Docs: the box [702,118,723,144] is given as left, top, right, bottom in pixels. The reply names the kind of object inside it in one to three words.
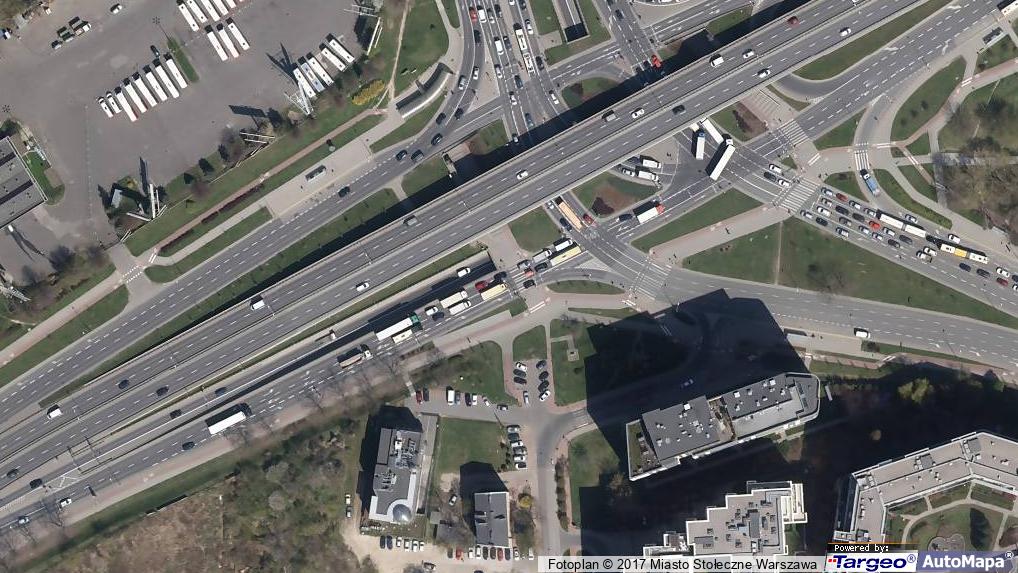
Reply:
bus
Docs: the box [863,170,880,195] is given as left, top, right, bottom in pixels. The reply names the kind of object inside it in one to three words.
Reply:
vehicle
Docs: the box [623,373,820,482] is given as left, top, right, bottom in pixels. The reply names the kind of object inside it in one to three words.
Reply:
building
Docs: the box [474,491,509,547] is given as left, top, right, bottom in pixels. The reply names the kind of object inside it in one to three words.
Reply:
house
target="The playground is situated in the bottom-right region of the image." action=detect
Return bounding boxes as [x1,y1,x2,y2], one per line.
[930,535,965,573]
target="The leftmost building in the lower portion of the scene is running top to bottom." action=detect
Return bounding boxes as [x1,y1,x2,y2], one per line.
[369,429,422,528]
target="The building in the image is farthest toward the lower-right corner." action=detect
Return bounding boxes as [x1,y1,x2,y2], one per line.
[828,433,1018,573]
